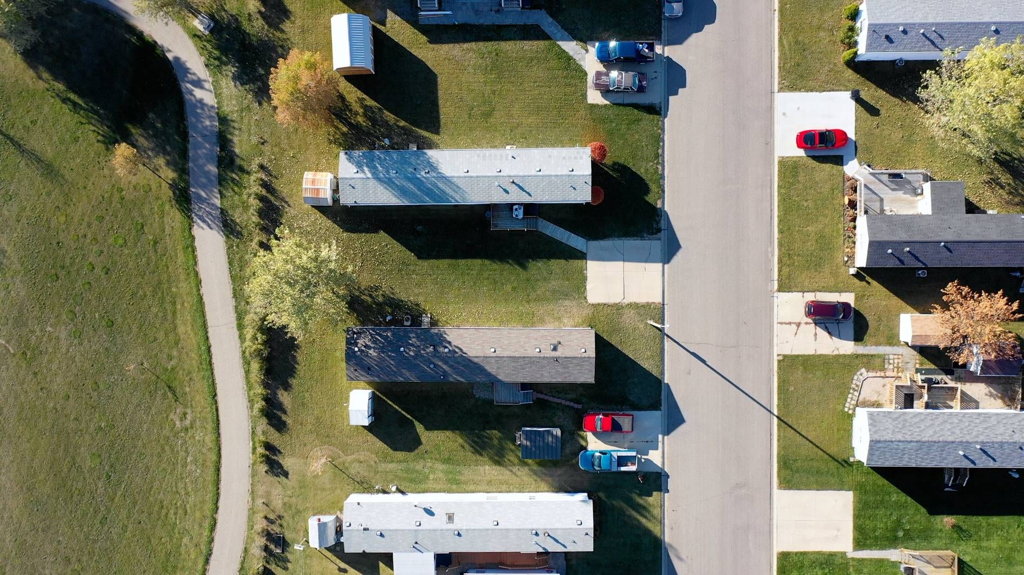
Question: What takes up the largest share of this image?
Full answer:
The scene is dominated by paved ground.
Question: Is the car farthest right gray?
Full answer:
No, from above the car farthest right looks red.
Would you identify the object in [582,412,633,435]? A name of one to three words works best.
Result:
truck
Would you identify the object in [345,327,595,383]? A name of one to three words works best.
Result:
house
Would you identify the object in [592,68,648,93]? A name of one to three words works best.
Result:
car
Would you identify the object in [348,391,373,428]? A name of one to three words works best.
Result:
shed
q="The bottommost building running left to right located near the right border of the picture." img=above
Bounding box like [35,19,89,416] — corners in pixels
[854,409,1024,467]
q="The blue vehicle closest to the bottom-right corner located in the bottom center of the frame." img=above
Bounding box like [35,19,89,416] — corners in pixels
[578,449,637,475]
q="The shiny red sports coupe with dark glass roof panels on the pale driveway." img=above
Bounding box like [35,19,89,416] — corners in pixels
[795,127,847,150]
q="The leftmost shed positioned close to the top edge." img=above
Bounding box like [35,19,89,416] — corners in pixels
[332,12,373,75]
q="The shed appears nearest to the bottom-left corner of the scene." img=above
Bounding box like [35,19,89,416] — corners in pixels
[309,518,338,553]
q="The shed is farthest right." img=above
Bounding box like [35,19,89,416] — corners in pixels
[981,349,1024,377]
